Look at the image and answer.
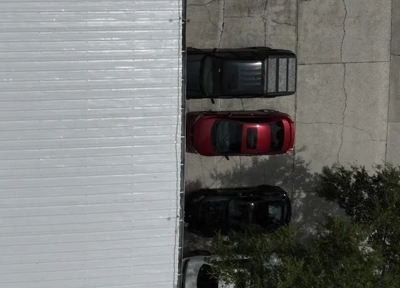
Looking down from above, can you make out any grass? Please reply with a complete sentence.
No, there is no grass in the image.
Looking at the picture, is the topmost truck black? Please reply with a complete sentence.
Yes, the topmost truck is indeed black.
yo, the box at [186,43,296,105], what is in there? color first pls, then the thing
black truck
